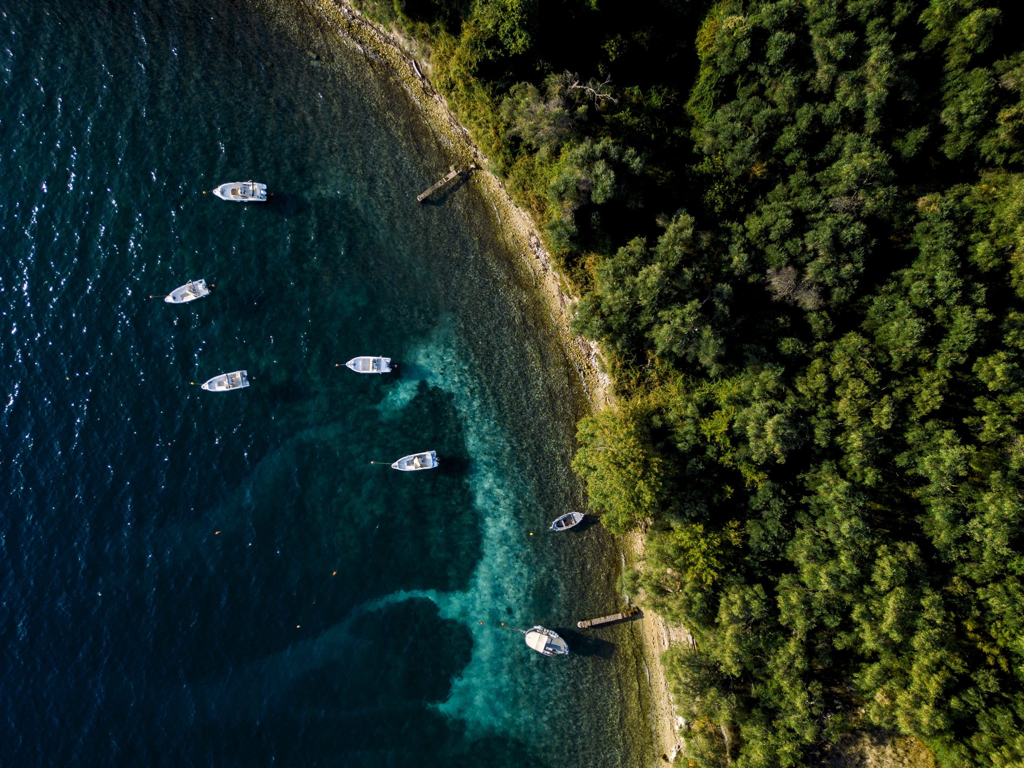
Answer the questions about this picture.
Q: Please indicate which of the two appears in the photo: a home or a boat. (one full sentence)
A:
It is a boat that can be seen here.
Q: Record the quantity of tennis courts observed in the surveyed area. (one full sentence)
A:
Not a single tennis court can be seen.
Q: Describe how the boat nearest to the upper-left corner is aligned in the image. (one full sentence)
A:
In this picture, the boat nearest to the upper-left corner is oriented from left to right.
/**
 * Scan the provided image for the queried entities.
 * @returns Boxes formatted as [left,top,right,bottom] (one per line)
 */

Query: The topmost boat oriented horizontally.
[212,178,275,203]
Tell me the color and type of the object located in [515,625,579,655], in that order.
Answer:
white boat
